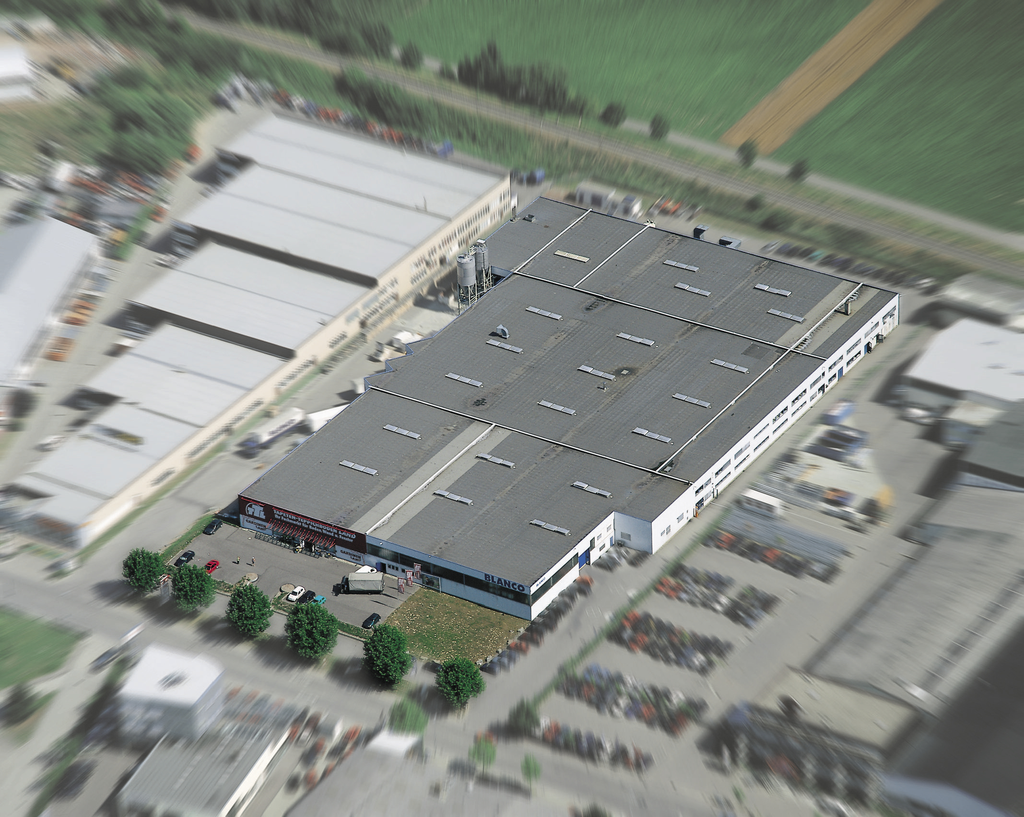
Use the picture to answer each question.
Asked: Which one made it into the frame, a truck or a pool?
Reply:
truck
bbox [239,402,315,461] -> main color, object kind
white truck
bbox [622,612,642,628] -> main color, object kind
red car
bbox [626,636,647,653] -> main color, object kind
red car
